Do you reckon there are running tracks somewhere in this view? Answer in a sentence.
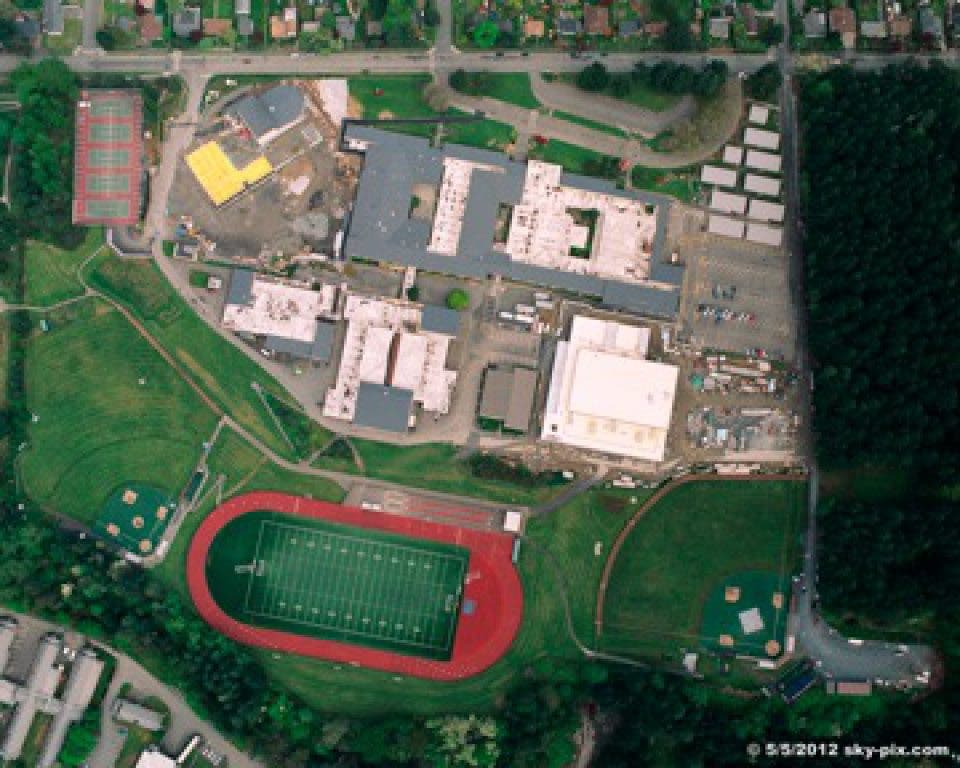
Yes, I can see a running track in this picture.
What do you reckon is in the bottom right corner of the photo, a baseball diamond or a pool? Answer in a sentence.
Visible in the bottom right corner of the photo is a baseball diamond.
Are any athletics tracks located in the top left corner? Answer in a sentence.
No, no athletics track appears in the top left corner.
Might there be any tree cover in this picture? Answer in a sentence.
Yes, tree cover shows up in the scene.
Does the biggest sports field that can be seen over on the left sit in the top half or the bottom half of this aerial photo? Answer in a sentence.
Seen from above, the biggest sports field that can be seen over on the left lies in the bottom half of the view.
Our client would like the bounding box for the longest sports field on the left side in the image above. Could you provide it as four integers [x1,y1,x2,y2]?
[204,510,473,662]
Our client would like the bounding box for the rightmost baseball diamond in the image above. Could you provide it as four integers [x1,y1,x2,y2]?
[595,475,806,664]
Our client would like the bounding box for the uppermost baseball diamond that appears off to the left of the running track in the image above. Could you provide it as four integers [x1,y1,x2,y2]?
[90,481,185,559]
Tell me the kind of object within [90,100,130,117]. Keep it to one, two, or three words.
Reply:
tennis court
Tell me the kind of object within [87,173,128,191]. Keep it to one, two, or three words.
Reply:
tennis court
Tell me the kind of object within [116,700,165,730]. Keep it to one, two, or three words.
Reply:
building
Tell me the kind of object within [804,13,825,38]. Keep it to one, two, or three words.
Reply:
house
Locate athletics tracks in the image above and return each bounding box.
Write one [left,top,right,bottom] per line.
[186,491,523,680]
